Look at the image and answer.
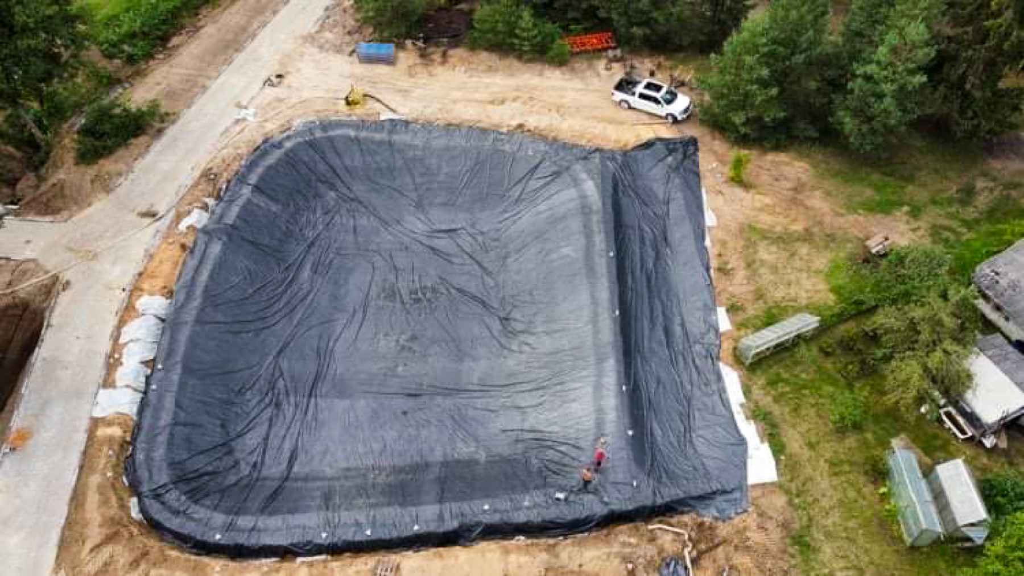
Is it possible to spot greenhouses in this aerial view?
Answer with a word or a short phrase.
Yes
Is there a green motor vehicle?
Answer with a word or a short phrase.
No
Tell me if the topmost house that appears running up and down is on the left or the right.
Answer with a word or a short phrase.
right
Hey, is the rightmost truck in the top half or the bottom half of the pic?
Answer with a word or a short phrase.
top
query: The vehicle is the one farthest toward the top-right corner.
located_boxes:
[608,77,700,124]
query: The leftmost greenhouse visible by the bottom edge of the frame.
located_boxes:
[871,443,945,549]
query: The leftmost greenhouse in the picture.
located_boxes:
[742,314,823,370]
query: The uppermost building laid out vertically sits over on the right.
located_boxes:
[973,262,1024,370]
